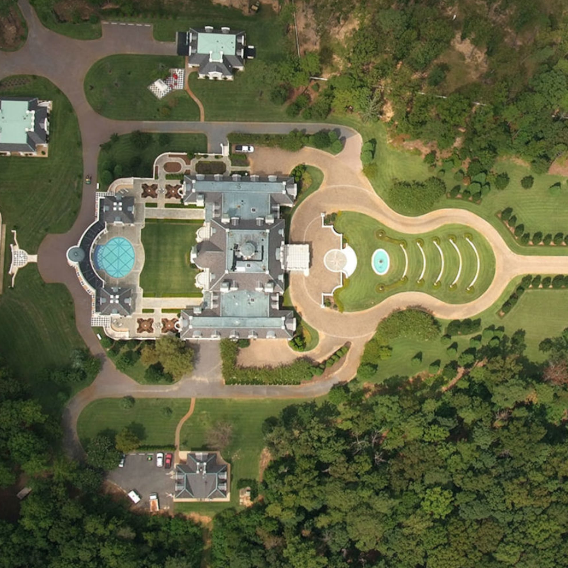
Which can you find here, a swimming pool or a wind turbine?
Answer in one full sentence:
It is a swimming pool that can be seen here.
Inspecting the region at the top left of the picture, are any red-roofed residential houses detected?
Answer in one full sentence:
No, at the top left of the picture there is no red-roofed residential house.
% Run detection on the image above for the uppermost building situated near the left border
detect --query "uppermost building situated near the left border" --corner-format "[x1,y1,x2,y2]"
[0,96,53,158]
